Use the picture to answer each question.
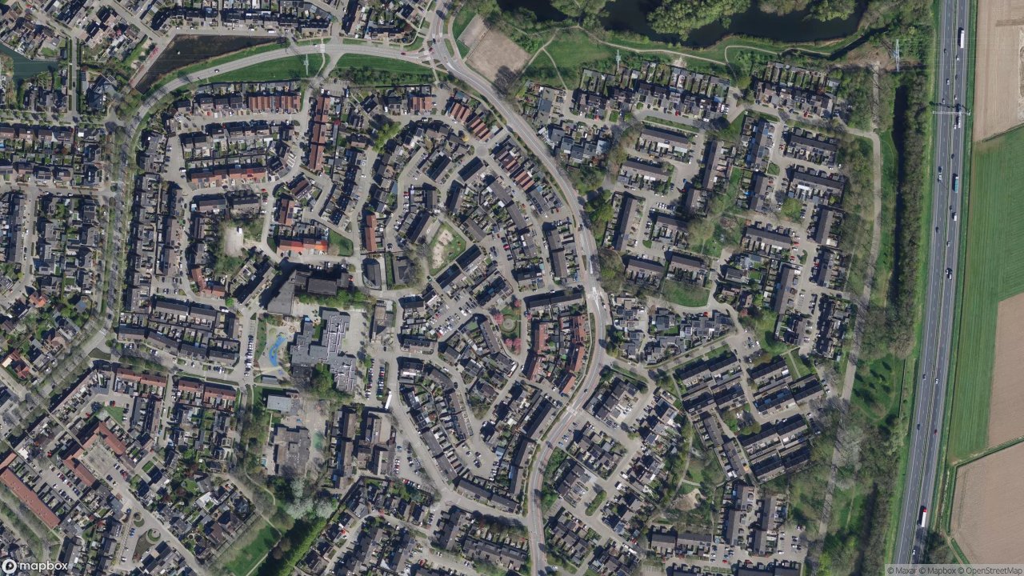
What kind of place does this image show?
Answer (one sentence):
It's a residential area.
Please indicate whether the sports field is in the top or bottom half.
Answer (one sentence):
Seen from above, the sports field lies in the top half of the view.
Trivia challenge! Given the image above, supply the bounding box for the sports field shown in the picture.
[468,30,531,82]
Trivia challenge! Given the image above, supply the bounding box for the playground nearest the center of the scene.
[431,228,458,271]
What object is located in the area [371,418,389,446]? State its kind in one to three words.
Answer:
building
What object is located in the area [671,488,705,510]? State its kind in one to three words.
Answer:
playground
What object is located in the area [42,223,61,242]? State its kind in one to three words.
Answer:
house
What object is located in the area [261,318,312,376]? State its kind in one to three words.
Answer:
playground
